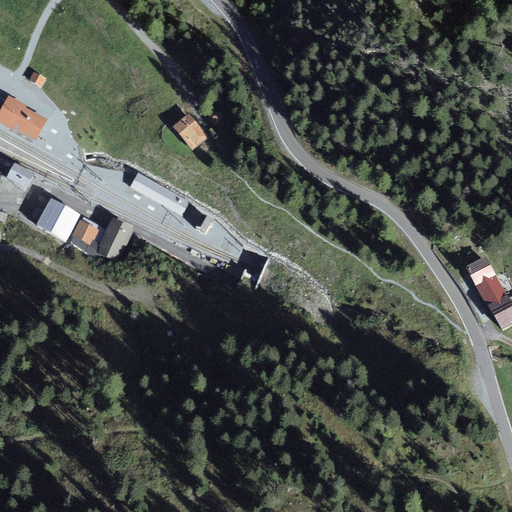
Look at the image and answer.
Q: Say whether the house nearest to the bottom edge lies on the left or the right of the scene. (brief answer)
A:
right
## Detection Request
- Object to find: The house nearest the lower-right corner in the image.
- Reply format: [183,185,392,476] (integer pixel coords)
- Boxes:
[466,255,512,329]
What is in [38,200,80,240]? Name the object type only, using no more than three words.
building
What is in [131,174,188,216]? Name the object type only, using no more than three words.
shed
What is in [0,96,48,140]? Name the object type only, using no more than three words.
building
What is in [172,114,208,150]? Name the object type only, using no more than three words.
house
